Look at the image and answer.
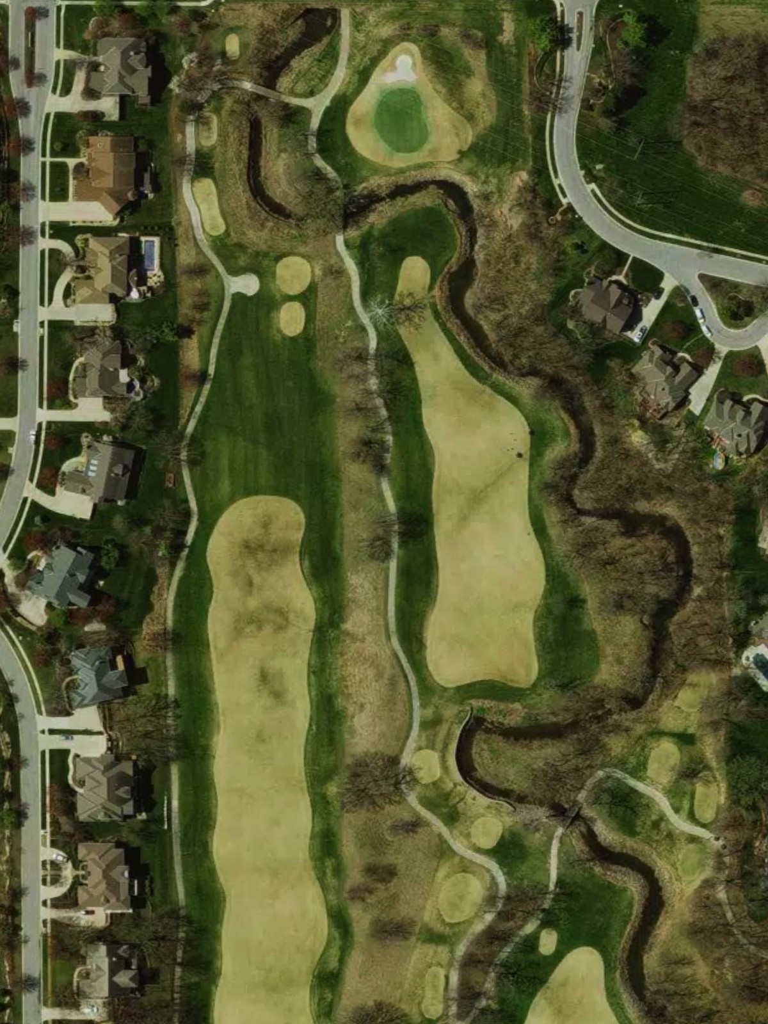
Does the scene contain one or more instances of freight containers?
No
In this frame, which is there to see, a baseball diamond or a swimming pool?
swimming pool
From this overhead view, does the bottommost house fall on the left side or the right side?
left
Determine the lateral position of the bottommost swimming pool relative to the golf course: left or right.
on the right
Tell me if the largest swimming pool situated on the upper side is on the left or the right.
left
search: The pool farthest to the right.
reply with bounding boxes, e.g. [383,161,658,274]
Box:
[742,643,768,693]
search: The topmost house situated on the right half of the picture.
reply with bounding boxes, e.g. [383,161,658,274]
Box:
[577,276,641,336]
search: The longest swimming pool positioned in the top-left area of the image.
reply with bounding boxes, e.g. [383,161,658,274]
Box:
[140,237,164,285]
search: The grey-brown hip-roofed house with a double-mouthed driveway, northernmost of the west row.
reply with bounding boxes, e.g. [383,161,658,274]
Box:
[89,36,150,105]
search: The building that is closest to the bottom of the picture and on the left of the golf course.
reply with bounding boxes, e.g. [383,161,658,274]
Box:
[77,944,139,1000]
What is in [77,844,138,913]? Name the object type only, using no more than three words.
house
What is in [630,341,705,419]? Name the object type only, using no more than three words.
house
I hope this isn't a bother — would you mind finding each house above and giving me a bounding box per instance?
[77,844,138,913]
[20,540,97,610]
[77,944,139,1000]
[71,340,130,398]
[75,756,147,822]
[89,36,150,105]
[577,276,641,336]
[67,647,129,709]
[75,236,145,303]
[630,341,705,419]
[76,134,150,217]
[61,440,133,504]
[705,396,768,458]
